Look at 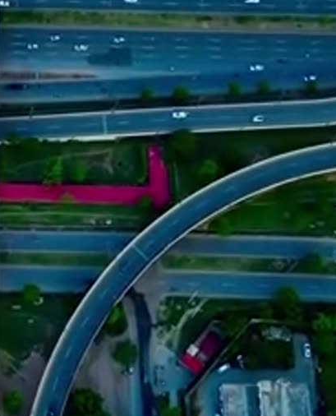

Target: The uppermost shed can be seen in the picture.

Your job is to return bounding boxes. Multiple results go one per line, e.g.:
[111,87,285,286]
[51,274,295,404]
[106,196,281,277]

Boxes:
[178,330,220,376]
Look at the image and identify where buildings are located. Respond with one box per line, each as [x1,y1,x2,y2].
[252,377,312,416]
[178,330,220,376]
[217,380,249,416]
